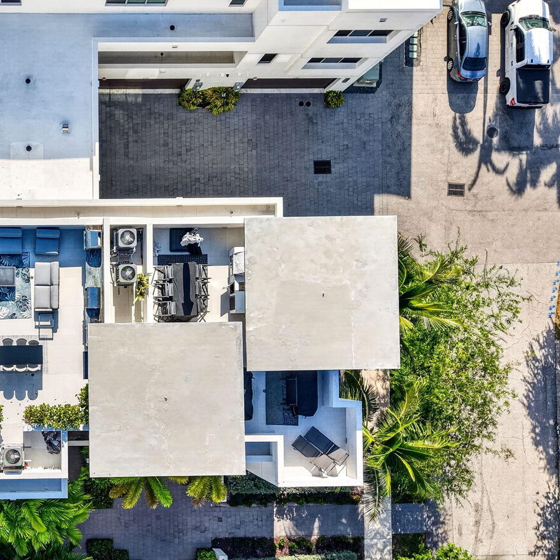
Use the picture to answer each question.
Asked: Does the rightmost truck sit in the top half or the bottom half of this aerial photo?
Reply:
top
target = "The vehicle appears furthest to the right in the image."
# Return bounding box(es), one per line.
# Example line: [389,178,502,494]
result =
[501,0,556,108]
